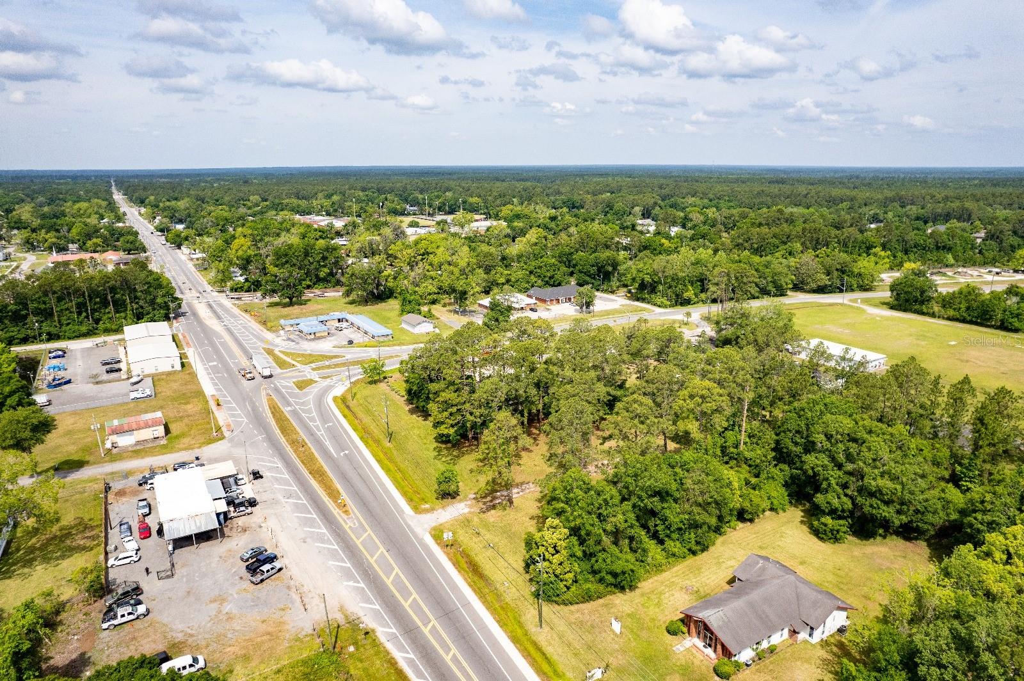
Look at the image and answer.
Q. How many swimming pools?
0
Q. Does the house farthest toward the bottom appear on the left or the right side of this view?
right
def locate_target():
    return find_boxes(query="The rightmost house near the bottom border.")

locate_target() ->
[673,553,860,670]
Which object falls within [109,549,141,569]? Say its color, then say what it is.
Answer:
white car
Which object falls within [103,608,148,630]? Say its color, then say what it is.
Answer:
white truck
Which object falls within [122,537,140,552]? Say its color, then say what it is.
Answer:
white car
